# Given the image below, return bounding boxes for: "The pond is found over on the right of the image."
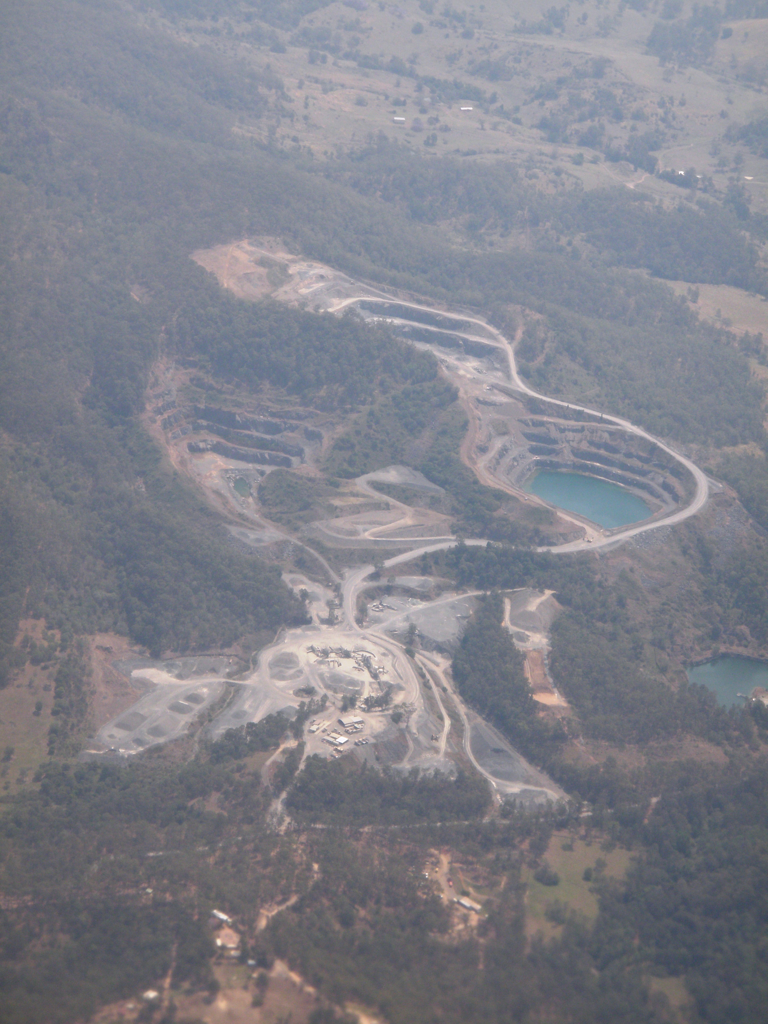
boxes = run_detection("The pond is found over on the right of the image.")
[683,653,768,717]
